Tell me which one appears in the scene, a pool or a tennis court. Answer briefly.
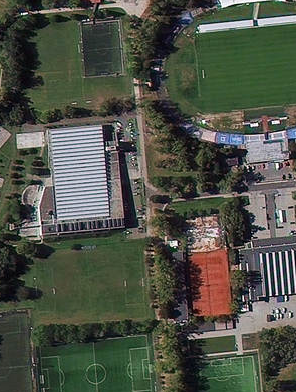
tennis court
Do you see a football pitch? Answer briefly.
Yes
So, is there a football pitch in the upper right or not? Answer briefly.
Yes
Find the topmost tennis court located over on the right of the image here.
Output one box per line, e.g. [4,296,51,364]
[189,249,235,317]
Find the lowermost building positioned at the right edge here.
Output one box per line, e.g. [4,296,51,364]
[231,236,296,301]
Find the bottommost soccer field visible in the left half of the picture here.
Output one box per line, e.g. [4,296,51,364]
[39,333,156,392]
